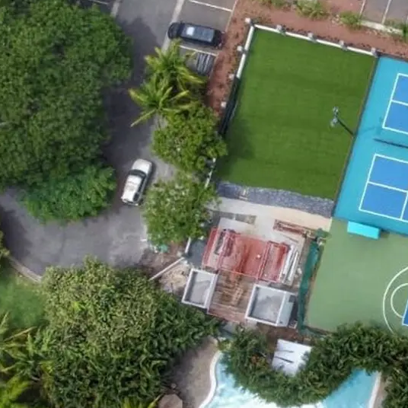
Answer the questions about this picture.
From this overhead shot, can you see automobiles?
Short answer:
Yes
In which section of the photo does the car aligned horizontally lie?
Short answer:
top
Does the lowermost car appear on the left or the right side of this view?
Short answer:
left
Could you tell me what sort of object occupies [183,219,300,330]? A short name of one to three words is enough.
building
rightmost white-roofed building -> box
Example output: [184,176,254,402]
[272,341,315,376]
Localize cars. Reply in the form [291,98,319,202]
[121,160,153,205]
[173,24,219,48]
